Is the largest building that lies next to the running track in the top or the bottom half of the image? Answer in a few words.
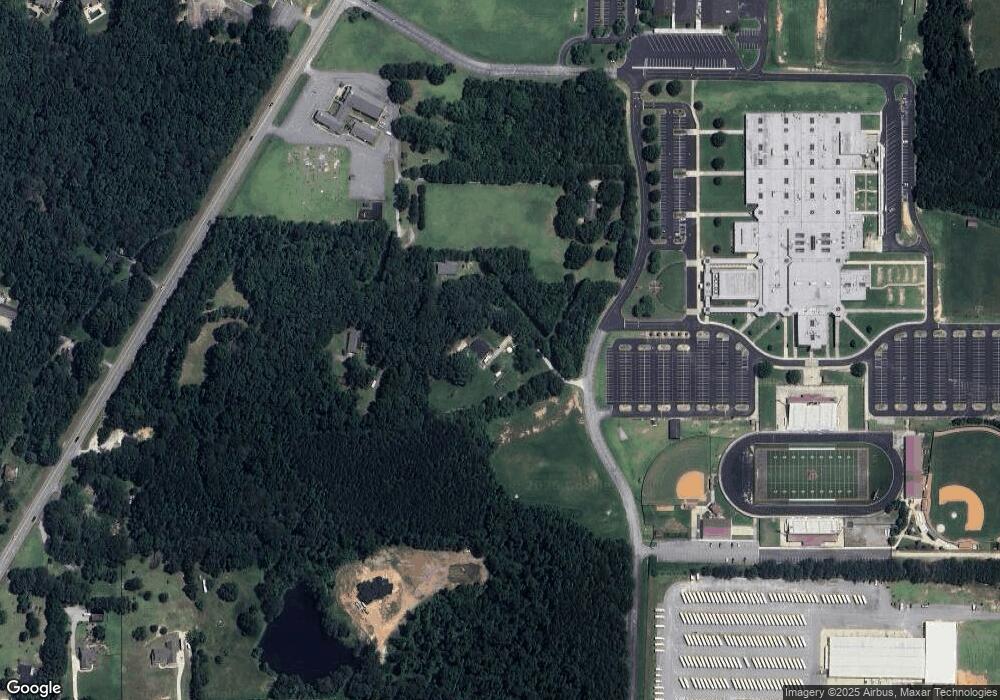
top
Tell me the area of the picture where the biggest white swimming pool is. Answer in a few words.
top left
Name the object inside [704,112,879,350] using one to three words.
building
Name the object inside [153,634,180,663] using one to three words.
house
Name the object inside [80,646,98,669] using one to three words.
house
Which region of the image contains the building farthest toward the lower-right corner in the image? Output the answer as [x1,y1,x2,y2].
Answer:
[924,622,957,686]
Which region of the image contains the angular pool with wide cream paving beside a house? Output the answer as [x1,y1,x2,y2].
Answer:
[84,3,105,23]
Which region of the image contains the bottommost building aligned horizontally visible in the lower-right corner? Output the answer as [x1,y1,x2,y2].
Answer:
[828,637,925,679]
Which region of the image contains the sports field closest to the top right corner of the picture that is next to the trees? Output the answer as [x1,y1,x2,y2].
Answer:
[826,0,902,64]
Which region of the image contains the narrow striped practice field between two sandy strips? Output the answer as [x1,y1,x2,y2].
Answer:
[784,0,814,62]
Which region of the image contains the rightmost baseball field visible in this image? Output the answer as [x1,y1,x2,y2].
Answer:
[927,425,1000,552]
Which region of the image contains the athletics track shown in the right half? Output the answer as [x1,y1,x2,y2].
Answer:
[719,431,904,517]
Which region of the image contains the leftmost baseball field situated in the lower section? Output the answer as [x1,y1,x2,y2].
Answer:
[642,436,710,506]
